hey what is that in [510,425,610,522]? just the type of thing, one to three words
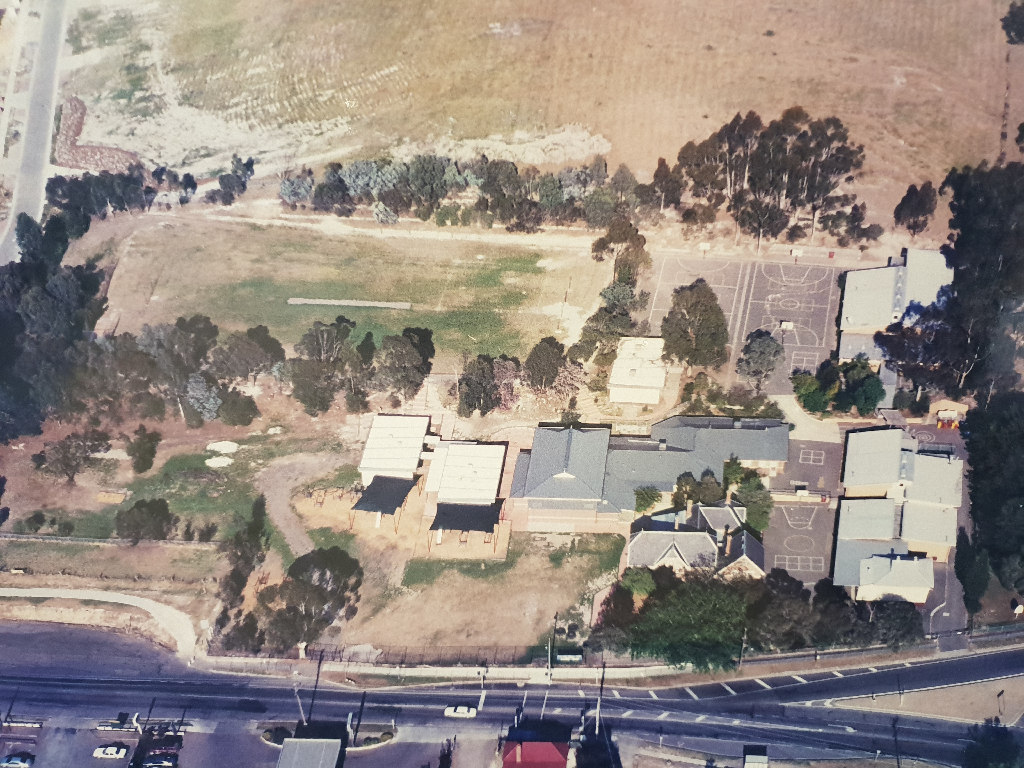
building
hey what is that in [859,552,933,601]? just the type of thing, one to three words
house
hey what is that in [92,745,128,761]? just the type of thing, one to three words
car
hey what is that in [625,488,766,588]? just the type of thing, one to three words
building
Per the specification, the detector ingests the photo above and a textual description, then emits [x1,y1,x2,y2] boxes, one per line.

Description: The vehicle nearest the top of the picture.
[443,705,477,720]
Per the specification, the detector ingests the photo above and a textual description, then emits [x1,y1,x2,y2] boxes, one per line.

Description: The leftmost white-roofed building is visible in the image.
[358,416,429,481]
